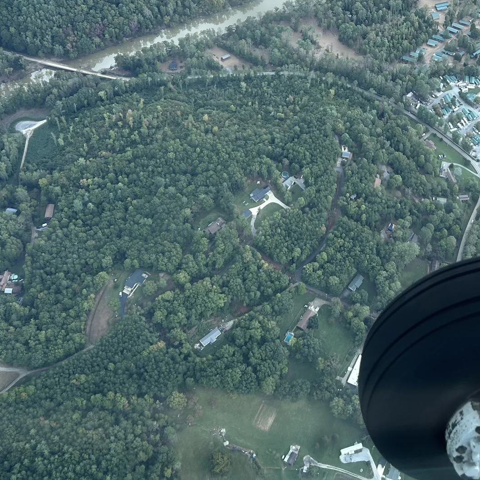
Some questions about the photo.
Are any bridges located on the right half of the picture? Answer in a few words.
No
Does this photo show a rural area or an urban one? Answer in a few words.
rural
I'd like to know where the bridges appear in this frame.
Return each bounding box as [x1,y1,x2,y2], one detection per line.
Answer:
[41,58,136,83]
